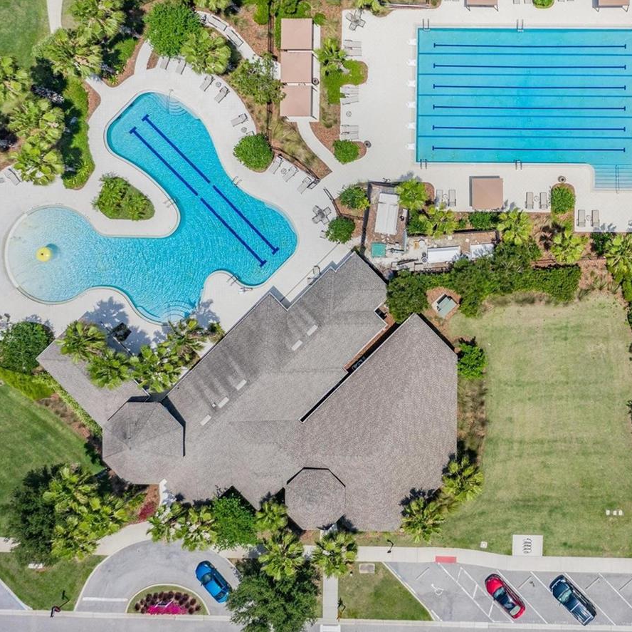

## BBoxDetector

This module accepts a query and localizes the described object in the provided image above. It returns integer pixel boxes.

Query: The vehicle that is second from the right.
[482,569,529,622]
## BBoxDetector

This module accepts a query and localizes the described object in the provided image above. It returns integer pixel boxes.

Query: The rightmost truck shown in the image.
[545,570,600,631]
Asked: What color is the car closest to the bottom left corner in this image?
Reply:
blue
